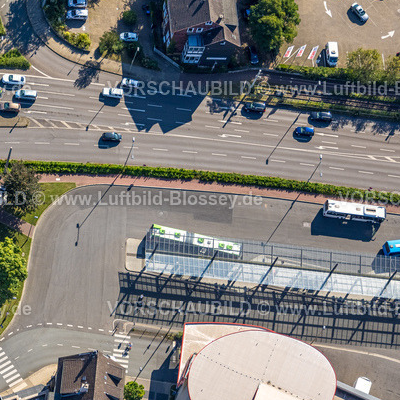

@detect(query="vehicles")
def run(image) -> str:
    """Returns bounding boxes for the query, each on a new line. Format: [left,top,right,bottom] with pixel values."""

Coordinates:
[325,37,340,66]
[65,8,89,21]
[120,31,139,42]
[321,202,385,225]
[120,78,138,89]
[15,89,37,101]
[380,241,400,260]
[356,372,372,391]
[101,131,122,142]
[102,87,123,99]
[309,110,332,122]
[244,101,266,113]
[350,3,370,23]
[2,74,25,86]
[294,126,314,137]
[68,0,87,8]
[0,102,21,113]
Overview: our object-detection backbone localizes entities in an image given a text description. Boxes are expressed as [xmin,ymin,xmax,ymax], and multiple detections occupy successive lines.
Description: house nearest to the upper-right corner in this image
[159,0,241,80]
